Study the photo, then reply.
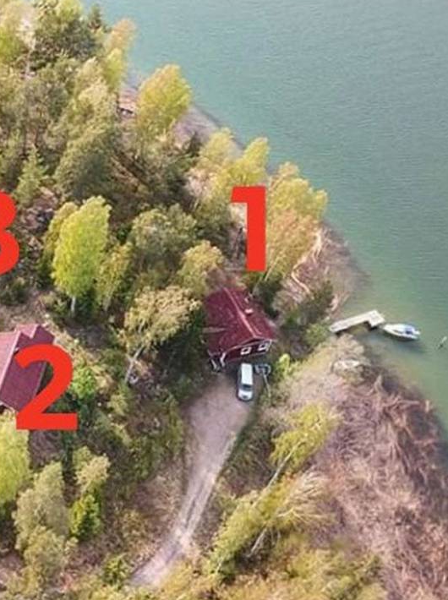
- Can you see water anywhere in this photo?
Yes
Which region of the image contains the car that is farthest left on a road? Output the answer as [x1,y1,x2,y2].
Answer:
[237,363,257,401]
